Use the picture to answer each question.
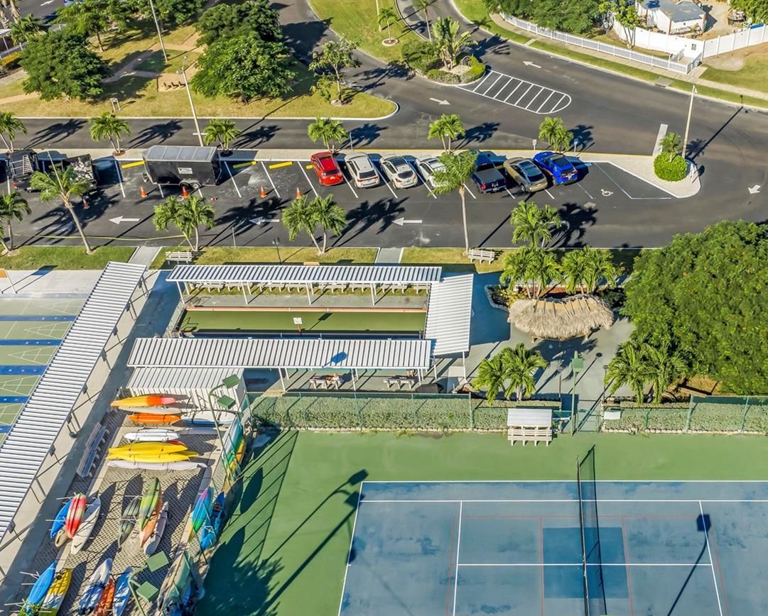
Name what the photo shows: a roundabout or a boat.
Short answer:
boat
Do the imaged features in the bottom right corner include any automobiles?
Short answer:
No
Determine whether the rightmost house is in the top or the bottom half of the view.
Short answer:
top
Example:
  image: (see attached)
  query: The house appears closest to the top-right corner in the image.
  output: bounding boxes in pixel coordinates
[644,0,706,36]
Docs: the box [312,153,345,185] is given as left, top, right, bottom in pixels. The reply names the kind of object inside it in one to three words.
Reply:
car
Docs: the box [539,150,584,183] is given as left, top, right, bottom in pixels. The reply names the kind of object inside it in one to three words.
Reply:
car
